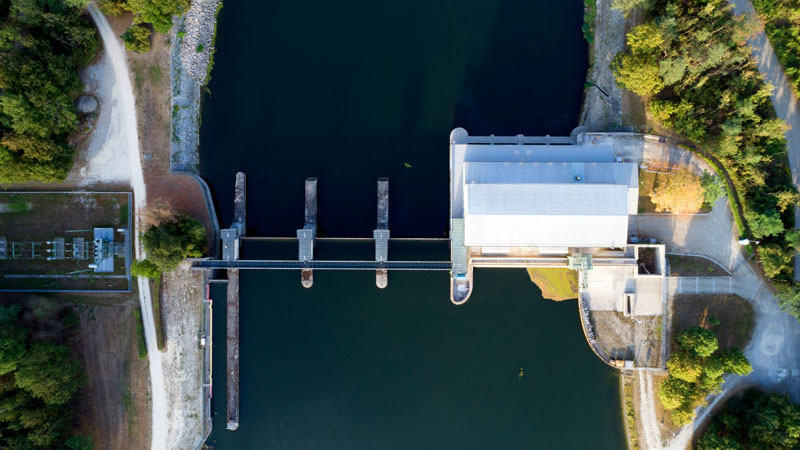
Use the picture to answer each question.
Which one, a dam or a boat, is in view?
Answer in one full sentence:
There is a dam in the scene.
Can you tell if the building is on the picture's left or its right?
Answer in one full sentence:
The building sits on the right side.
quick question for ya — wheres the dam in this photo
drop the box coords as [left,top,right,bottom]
[222,172,448,289]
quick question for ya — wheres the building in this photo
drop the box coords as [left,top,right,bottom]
[448,126,639,272]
